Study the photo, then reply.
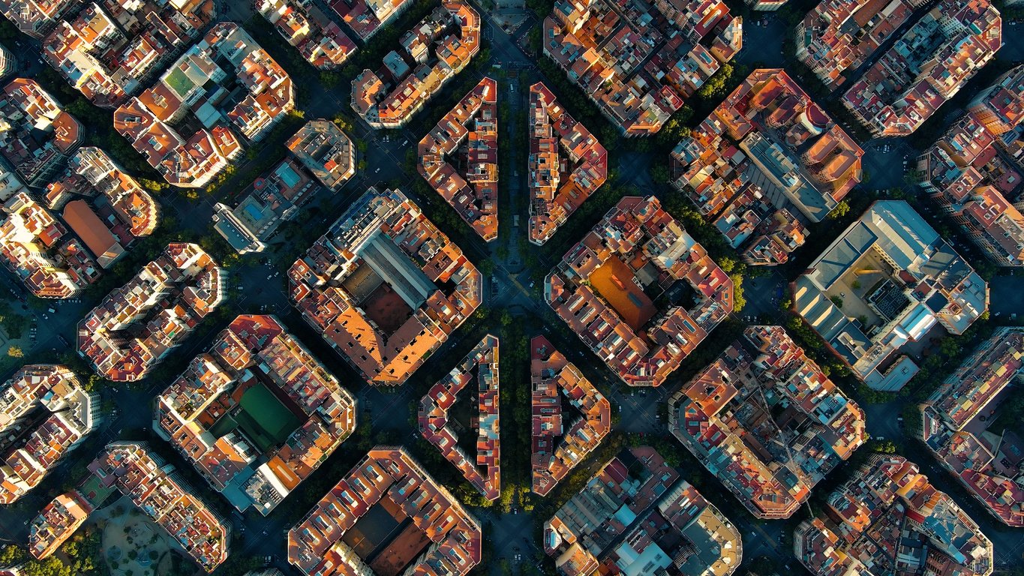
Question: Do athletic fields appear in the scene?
Yes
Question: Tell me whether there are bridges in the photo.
No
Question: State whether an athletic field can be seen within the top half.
No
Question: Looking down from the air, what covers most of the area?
buildings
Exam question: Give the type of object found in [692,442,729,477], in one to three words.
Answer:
building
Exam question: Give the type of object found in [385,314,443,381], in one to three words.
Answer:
house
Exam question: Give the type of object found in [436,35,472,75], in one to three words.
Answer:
building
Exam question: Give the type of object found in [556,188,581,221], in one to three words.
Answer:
house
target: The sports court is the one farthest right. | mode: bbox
[232,401,275,453]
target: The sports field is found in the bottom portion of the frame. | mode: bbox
[240,381,304,447]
